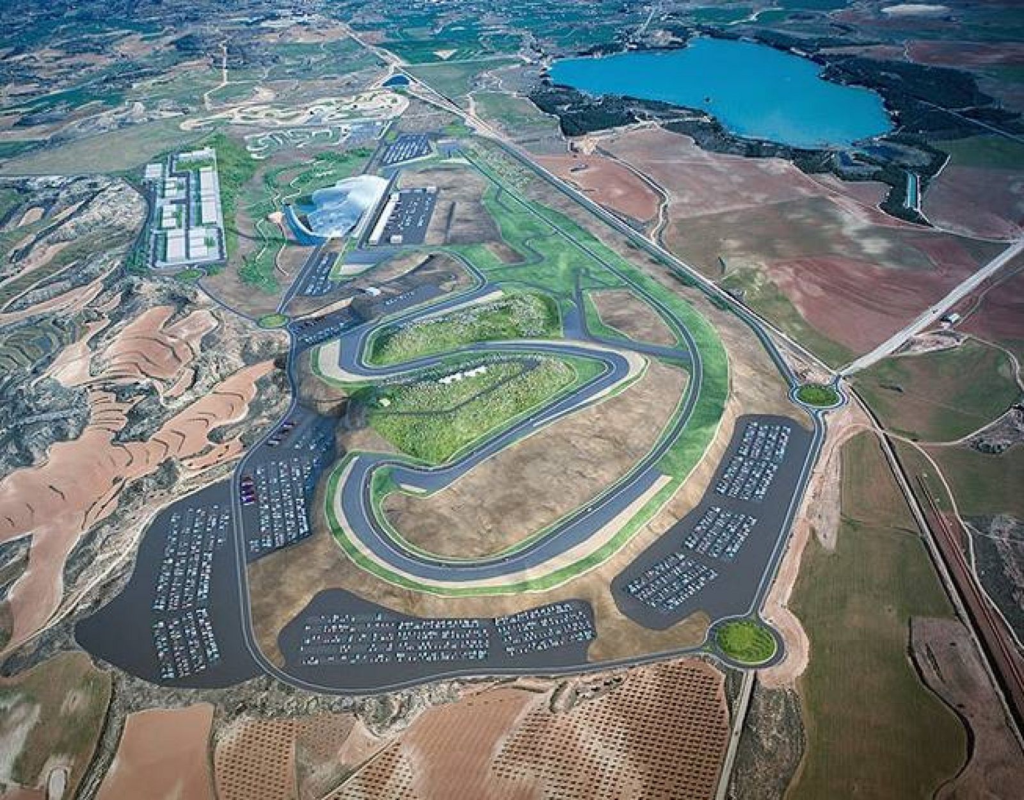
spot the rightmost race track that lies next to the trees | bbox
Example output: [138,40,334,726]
[353,148,700,568]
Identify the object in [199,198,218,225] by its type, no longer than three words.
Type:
building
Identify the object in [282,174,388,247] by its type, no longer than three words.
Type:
building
